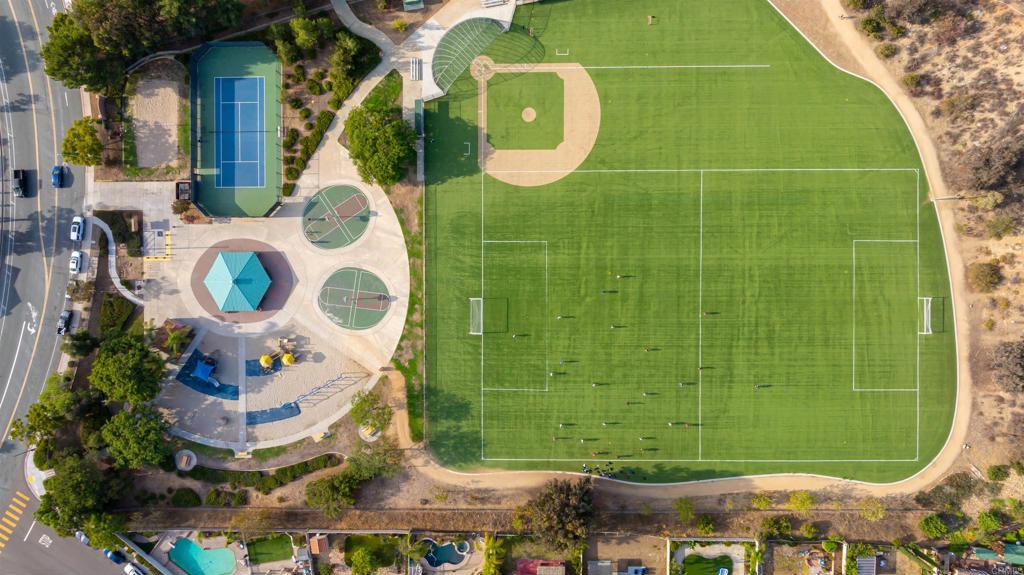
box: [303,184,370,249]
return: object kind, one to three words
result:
basketball court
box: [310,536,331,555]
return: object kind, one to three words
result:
shed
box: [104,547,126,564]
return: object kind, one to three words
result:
car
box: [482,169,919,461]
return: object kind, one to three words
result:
soccer field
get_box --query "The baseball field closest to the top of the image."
[463,49,770,186]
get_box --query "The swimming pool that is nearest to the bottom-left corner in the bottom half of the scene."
[165,537,237,575]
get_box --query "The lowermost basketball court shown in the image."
[318,267,390,330]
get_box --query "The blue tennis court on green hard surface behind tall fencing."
[198,47,281,215]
